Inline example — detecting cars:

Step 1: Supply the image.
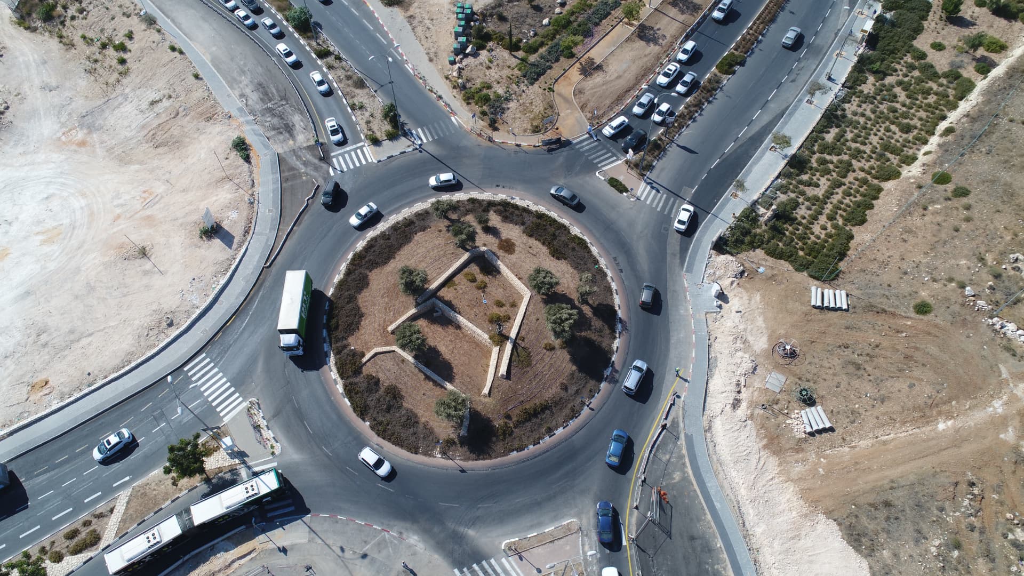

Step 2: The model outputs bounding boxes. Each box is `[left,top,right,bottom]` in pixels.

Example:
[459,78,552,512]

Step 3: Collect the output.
[650,100,675,126]
[428,172,459,189]
[238,0,263,15]
[93,427,135,463]
[674,69,699,97]
[637,282,657,313]
[215,0,239,12]
[357,445,393,481]
[348,201,381,229]
[711,0,735,21]
[655,62,682,89]
[630,90,656,118]
[780,26,803,51]
[605,429,628,469]
[319,178,342,210]
[619,126,649,154]
[274,41,301,68]
[601,565,618,576]
[308,70,332,98]
[232,7,259,32]
[595,501,615,545]
[260,15,286,40]
[621,359,647,398]
[600,114,631,138]
[548,185,582,208]
[675,39,699,64]
[672,204,693,235]
[325,117,345,146]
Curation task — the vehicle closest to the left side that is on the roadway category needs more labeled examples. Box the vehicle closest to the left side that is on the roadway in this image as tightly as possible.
[0,464,22,497]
